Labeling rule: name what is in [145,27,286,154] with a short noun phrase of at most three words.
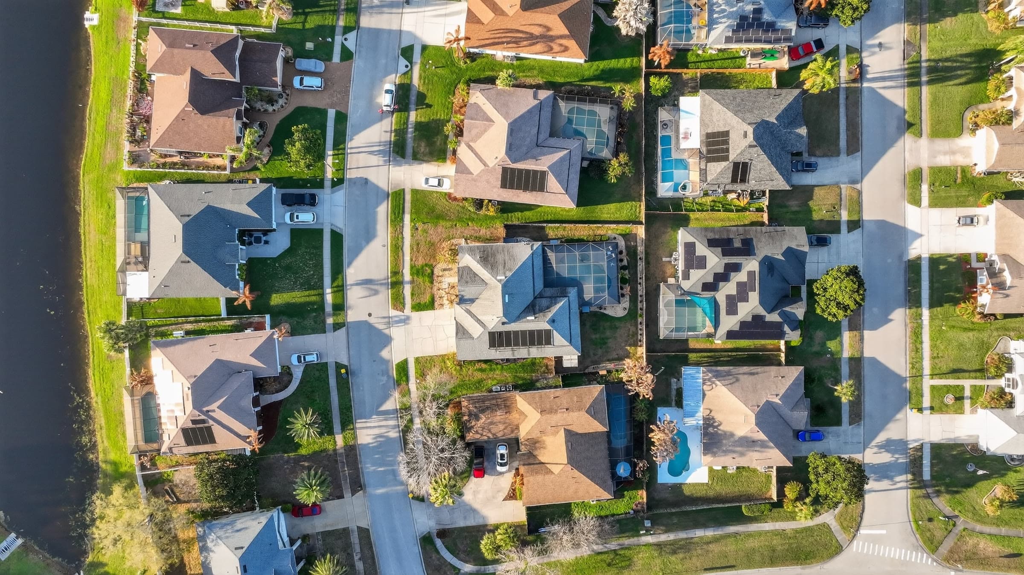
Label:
house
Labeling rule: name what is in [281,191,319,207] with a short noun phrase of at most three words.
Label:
vehicle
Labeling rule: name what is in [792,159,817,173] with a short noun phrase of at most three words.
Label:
car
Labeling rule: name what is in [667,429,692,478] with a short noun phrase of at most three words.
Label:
swimming pool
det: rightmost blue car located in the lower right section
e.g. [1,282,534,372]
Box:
[796,429,822,442]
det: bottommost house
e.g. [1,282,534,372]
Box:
[196,507,306,575]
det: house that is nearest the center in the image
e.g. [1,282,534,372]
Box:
[455,243,581,359]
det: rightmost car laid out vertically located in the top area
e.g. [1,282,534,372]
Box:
[381,84,397,114]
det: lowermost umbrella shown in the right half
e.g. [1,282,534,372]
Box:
[616,462,631,478]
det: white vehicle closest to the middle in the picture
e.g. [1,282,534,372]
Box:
[421,176,451,190]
